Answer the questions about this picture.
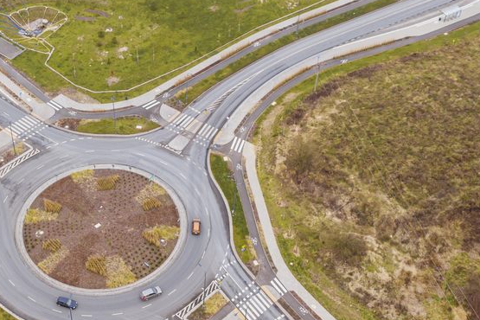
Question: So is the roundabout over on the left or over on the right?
left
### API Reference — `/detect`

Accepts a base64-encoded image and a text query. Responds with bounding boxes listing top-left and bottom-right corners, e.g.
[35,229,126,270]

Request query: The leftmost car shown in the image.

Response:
[53,295,80,311]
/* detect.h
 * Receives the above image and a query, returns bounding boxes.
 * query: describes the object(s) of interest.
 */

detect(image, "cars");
[53,295,80,311]
[190,221,201,237]
[138,284,163,303]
